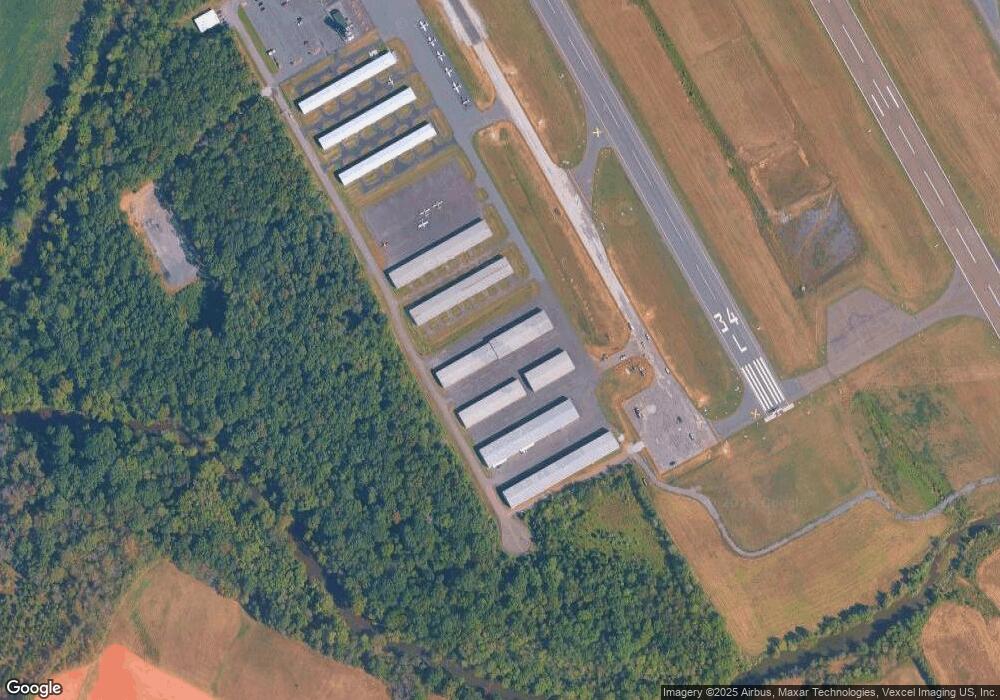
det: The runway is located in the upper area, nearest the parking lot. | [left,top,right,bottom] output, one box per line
[528,0,793,420]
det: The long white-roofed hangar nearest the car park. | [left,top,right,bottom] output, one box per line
[298,50,396,114]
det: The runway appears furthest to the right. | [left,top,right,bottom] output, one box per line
[810,0,1000,335]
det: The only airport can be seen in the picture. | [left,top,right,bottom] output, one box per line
[284,0,1000,495]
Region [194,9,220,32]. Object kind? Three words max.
building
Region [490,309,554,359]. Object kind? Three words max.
hangar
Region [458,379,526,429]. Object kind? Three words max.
hangar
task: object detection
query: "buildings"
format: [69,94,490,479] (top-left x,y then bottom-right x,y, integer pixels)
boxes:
[524,350,575,391]
[194,9,220,32]
[298,50,396,114]
[338,123,437,185]
[437,344,497,389]
[409,257,513,326]
[458,379,526,429]
[479,399,580,469]
[490,309,554,359]
[503,432,619,509]
[318,87,416,151]
[389,220,493,289]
